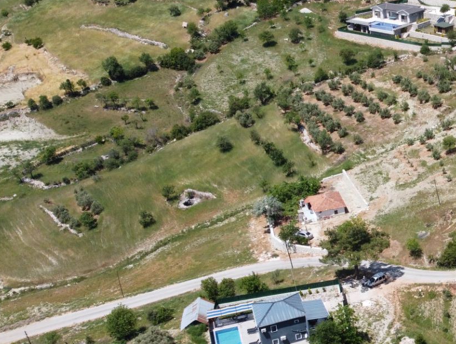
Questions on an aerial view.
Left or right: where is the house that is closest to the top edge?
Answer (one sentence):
The house that is closest to the top edge appears in the right half of the scene.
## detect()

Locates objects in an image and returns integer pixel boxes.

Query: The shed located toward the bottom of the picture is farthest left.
[177,289,208,323]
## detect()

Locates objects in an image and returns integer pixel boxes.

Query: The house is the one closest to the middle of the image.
[300,188,348,226]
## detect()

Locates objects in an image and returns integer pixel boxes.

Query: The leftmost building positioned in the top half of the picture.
[368,0,425,24]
